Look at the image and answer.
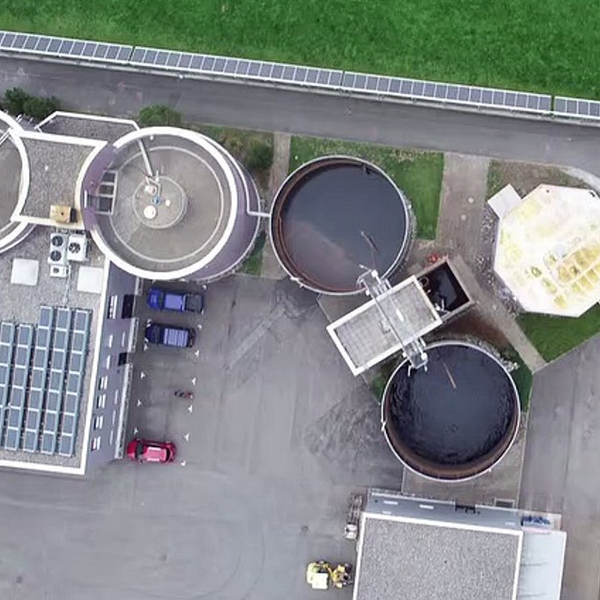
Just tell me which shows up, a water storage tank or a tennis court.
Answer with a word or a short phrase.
water storage tank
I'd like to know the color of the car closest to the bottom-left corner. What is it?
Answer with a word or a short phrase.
red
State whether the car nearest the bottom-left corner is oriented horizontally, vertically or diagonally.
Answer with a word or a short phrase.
horizontally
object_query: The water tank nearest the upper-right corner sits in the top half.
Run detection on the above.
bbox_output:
[271,155,412,295]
